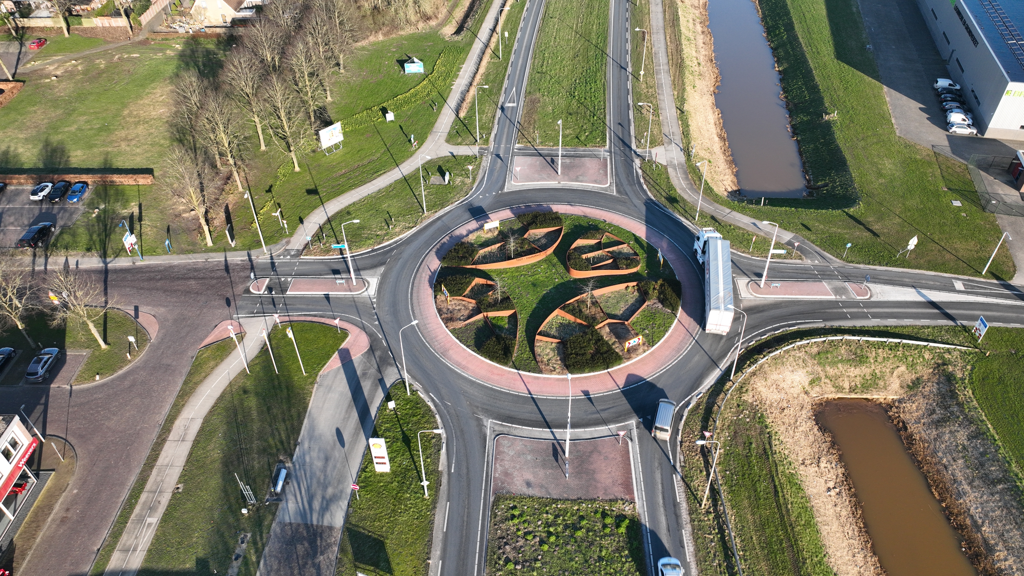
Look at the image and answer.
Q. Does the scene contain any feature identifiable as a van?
Yes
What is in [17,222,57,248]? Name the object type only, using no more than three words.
car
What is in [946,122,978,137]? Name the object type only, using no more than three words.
car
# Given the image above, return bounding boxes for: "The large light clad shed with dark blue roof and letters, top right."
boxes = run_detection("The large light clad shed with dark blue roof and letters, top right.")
[917,0,1024,141]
